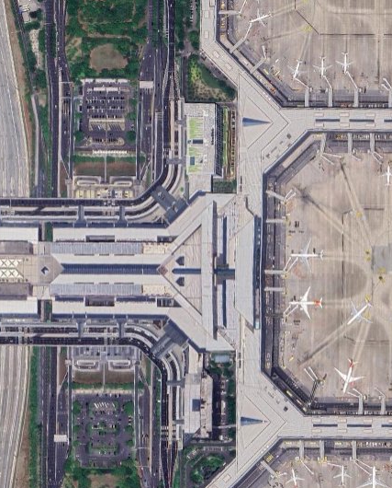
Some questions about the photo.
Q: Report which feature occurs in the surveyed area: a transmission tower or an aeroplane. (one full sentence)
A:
It is an aeroplane that can be seen here.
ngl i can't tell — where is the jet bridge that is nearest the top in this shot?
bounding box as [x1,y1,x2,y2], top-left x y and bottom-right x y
[220,0,247,14]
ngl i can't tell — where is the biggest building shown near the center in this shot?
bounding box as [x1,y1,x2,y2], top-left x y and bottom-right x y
[51,87,265,459]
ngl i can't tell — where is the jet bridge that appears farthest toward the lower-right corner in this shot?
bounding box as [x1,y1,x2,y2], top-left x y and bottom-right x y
[353,439,373,476]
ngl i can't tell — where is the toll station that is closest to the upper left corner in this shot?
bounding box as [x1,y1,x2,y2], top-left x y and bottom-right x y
[139,77,153,92]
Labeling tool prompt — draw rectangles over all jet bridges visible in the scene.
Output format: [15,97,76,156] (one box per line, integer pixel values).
[300,439,315,475]
[348,132,362,161]
[265,256,299,273]
[320,439,343,468]
[267,189,297,202]
[346,71,358,107]
[304,367,319,406]
[374,387,386,415]
[220,0,247,14]
[231,21,253,52]
[347,388,363,415]
[294,77,309,107]
[353,439,373,476]
[262,461,288,476]
[266,304,300,317]
[250,45,267,73]
[381,78,392,107]
[370,132,384,165]
[320,132,342,165]
[323,75,333,107]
